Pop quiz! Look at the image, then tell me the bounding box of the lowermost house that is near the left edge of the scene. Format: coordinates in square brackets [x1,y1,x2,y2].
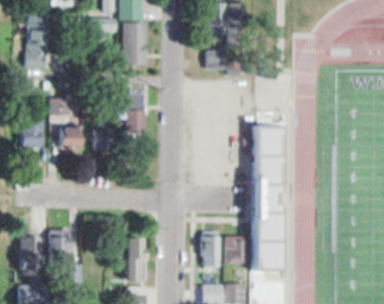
[18,284,48,304]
